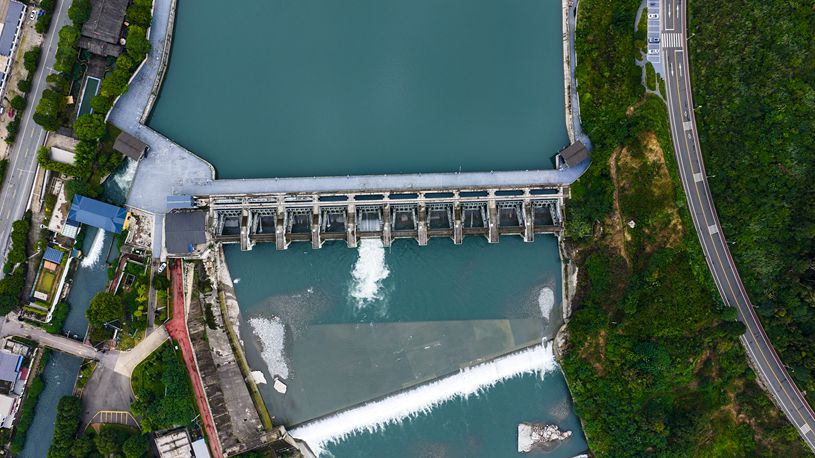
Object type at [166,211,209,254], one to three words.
building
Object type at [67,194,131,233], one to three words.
building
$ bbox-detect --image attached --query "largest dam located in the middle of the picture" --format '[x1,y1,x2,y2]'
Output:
[208,186,568,250]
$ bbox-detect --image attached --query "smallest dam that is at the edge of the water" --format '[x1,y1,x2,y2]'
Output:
[289,342,557,433]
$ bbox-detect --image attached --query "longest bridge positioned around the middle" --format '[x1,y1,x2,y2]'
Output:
[190,171,562,197]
